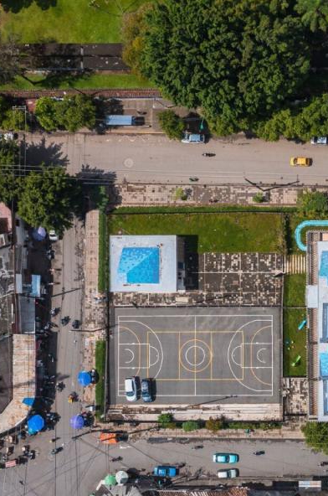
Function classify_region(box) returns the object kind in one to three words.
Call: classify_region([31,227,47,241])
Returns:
umbrella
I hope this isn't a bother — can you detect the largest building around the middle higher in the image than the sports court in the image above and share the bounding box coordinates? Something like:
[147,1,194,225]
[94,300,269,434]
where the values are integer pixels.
[109,235,184,292]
